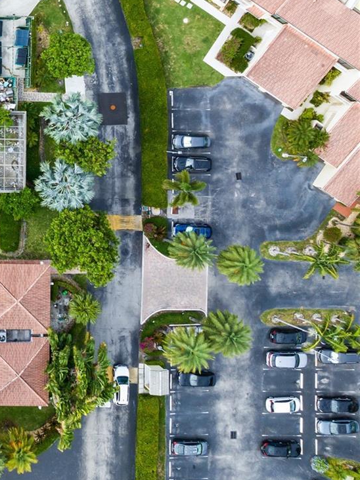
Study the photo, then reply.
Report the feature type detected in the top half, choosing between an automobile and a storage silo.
automobile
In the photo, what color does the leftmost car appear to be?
white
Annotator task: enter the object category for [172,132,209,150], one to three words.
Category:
car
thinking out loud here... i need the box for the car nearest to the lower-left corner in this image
[111,364,131,405]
